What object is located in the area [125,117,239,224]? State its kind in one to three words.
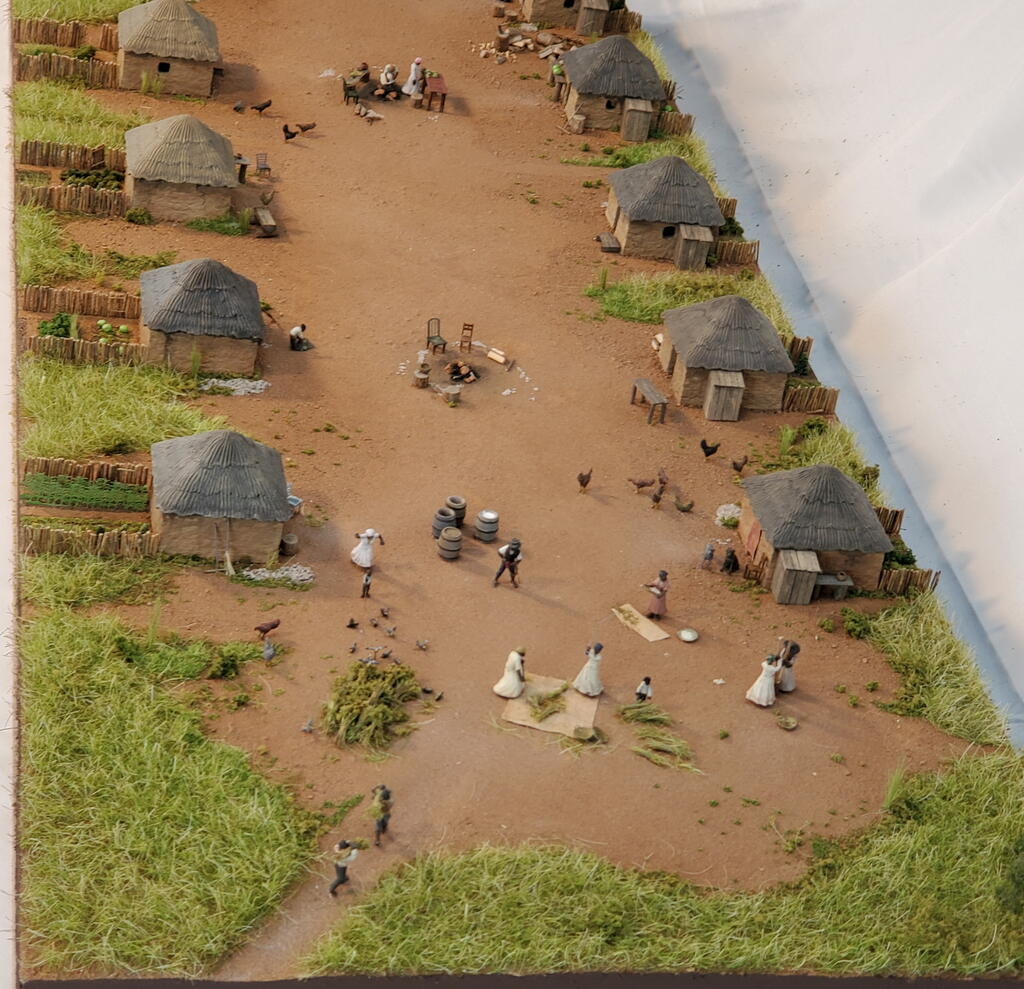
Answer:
shed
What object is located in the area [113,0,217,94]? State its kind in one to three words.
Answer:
shed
